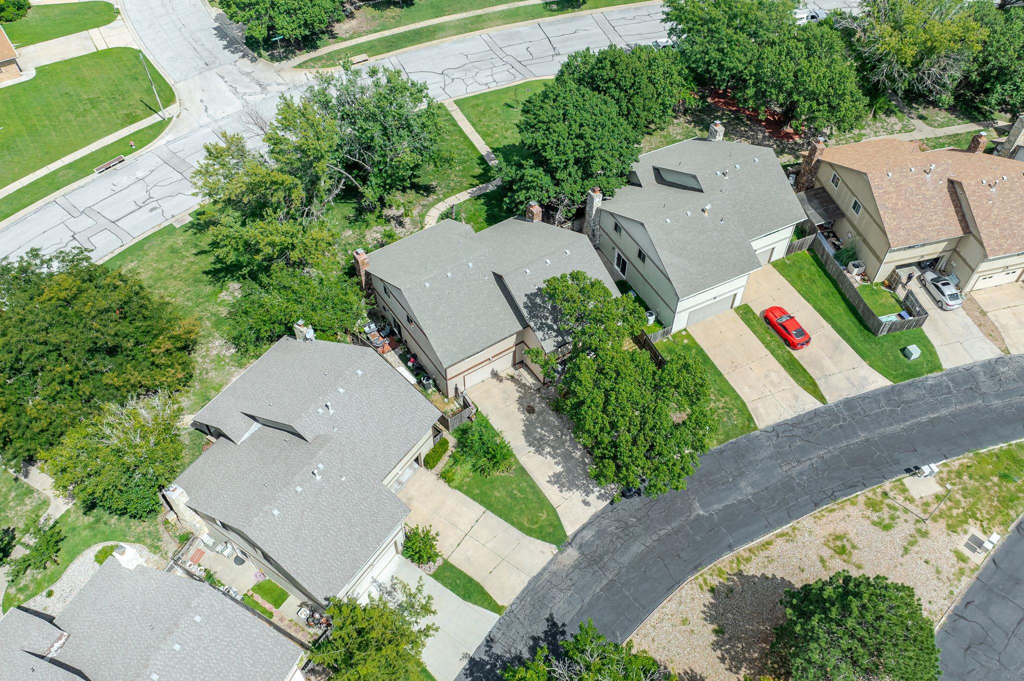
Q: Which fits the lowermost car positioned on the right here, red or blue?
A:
red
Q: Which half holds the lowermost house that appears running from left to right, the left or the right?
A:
left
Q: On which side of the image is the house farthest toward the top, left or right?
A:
left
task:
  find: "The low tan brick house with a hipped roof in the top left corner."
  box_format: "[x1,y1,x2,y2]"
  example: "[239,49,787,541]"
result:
[0,19,41,81]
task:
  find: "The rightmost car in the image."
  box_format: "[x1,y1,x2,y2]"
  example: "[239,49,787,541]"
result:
[922,270,968,311]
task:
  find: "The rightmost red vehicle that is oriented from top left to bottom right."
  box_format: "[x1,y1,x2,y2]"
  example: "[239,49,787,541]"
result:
[764,305,813,349]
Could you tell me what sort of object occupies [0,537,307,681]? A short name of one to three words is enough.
house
